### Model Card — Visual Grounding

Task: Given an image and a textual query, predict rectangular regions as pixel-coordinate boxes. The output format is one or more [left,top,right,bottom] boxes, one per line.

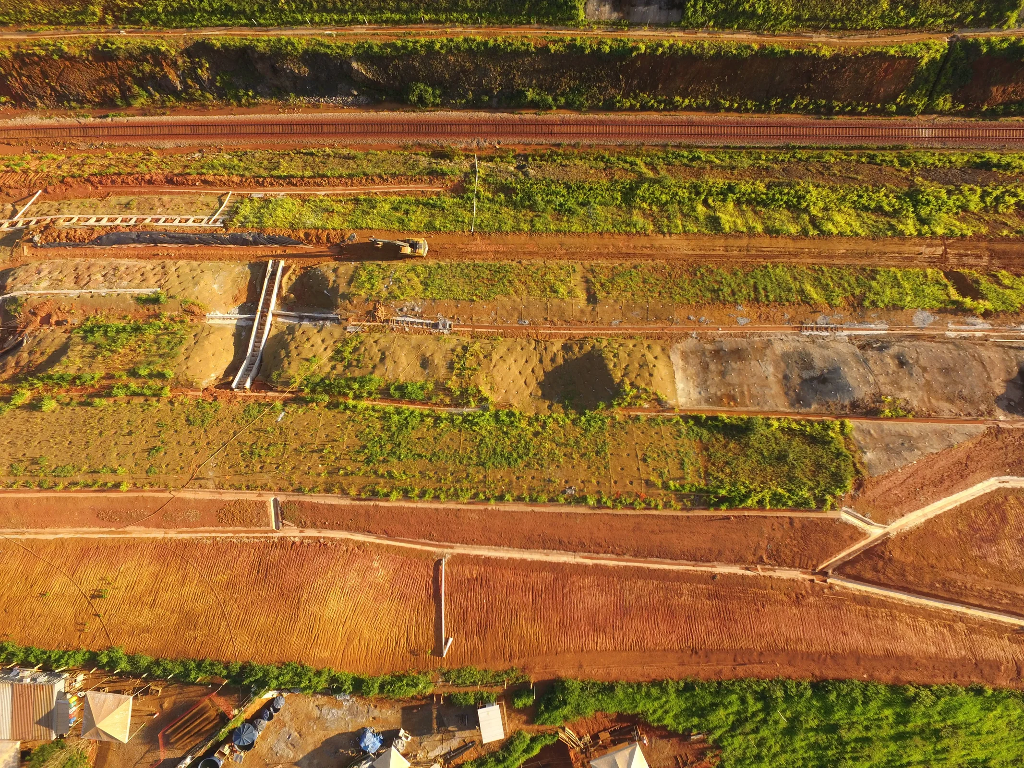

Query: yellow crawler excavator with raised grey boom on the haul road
[367,235,430,261]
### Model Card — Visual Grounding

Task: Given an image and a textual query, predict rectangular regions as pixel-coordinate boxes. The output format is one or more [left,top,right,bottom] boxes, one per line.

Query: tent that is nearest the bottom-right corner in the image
[587,729,649,768]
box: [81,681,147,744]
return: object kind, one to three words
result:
tent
